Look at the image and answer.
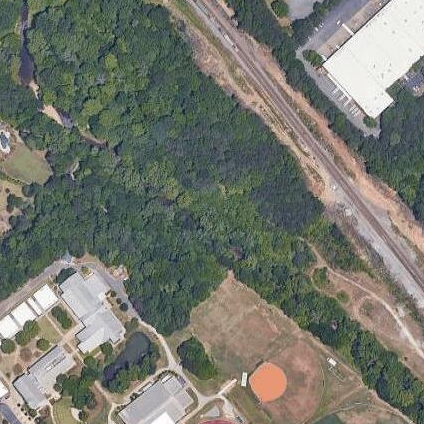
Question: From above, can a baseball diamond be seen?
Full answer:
Yes, this view includes a baseball diamond.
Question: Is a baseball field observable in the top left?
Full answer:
No, I see no baseball field in the top left.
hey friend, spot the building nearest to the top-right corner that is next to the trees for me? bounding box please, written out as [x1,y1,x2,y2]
[322,0,424,117]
